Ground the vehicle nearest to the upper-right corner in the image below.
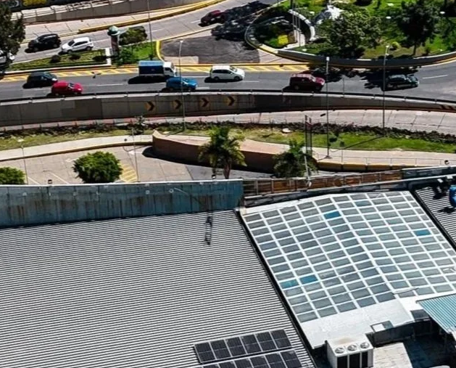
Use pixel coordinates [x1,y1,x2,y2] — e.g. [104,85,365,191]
[384,76,415,90]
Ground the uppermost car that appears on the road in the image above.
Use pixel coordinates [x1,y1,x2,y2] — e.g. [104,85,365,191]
[201,11,227,26]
